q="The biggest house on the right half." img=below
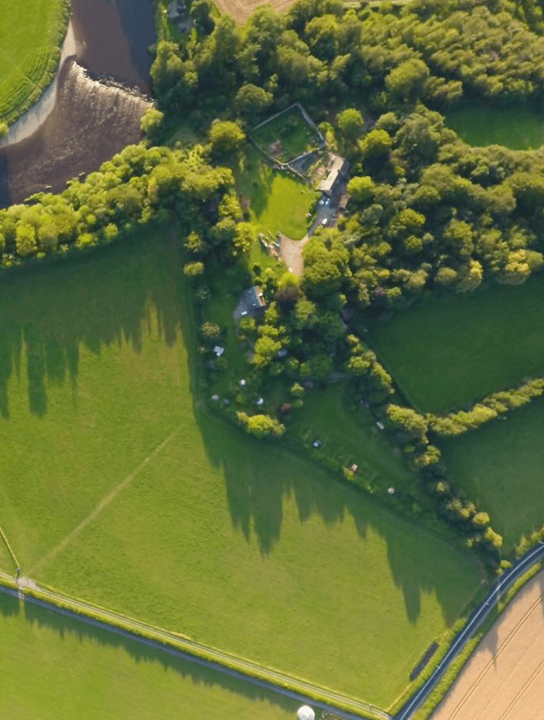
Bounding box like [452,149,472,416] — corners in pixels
[316,153,351,192]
